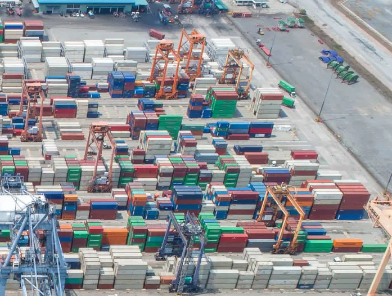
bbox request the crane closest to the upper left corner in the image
[16,84,45,141]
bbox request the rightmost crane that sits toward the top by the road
[220,46,260,98]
